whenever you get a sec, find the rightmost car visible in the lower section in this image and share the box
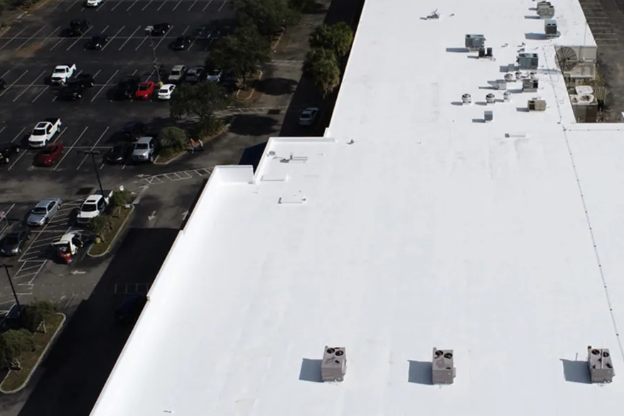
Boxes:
[112,294,148,325]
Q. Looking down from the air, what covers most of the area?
buildings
